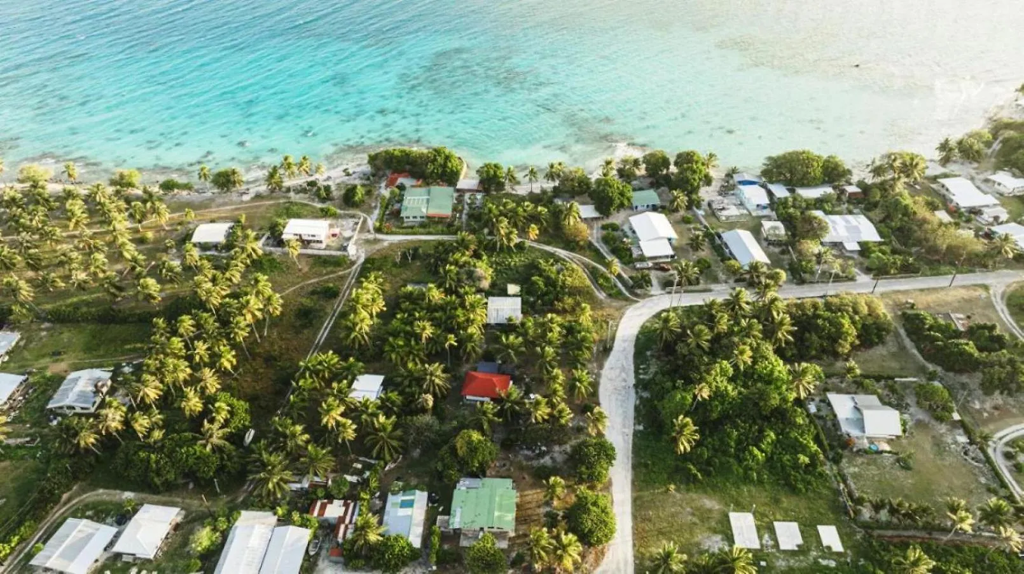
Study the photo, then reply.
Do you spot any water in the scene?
Yes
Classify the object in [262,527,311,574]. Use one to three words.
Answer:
house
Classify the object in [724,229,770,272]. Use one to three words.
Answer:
house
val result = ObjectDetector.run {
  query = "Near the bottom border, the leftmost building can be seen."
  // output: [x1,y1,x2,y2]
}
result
[24,516,122,574]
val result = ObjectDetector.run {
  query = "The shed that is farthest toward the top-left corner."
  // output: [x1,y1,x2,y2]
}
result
[192,222,235,250]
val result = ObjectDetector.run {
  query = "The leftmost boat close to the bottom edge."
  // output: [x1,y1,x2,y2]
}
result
[306,536,321,556]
